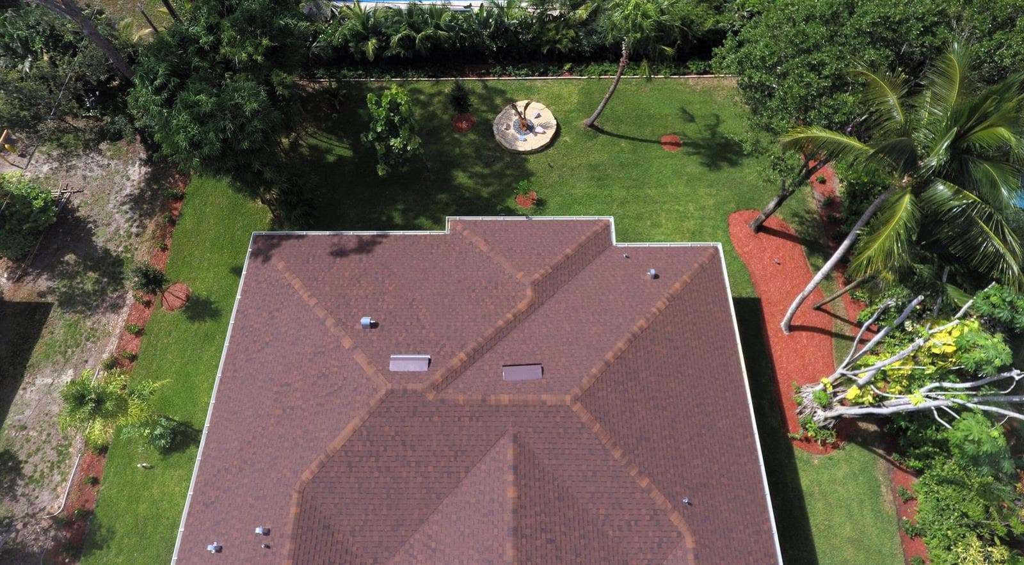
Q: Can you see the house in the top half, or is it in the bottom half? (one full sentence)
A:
The house is in the bottom half of the image.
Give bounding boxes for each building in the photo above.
[168,214,788,565]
